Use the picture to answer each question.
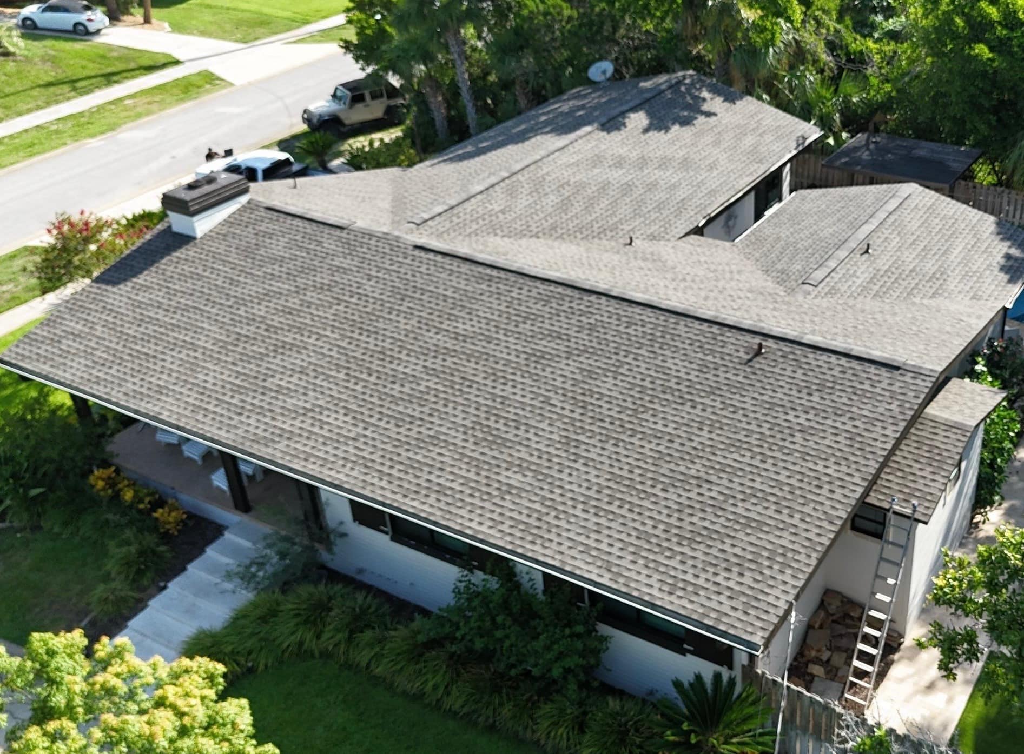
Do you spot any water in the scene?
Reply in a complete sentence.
No, water can't be seen anywhere here.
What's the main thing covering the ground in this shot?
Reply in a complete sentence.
What you mostly see from above here is buildings.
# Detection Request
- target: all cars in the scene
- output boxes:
[21,0,114,34]
[302,67,413,133]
